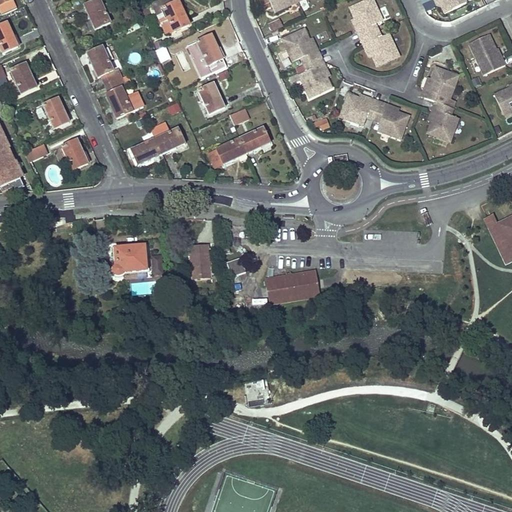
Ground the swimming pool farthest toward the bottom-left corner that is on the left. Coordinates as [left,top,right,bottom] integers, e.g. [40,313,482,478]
[130,280,156,296]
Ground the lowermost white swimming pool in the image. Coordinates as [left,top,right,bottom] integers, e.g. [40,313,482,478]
[45,164,62,188]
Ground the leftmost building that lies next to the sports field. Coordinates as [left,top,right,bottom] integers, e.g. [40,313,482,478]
[245,380,272,408]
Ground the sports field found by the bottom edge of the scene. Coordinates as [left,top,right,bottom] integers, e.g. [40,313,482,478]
[236,395,512,512]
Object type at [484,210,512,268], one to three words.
building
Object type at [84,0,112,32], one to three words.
house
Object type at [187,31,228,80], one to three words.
house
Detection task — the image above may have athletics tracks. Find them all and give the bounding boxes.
[157,416,505,512]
